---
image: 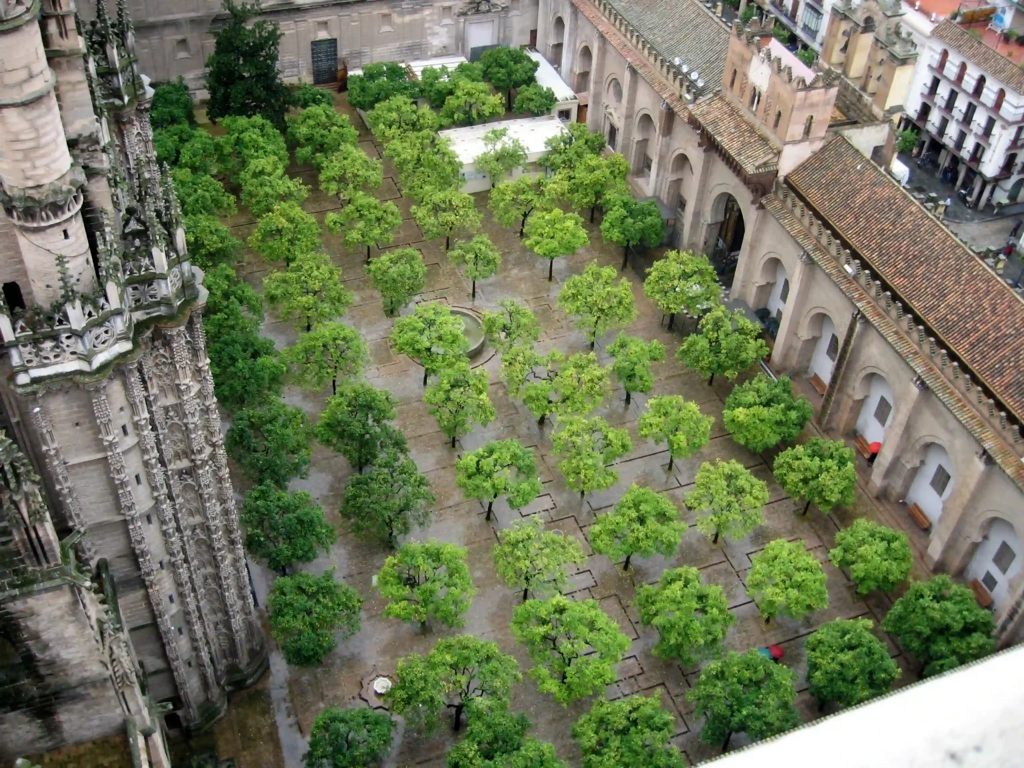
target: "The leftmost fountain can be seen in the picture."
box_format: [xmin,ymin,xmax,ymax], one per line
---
[374,676,391,695]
